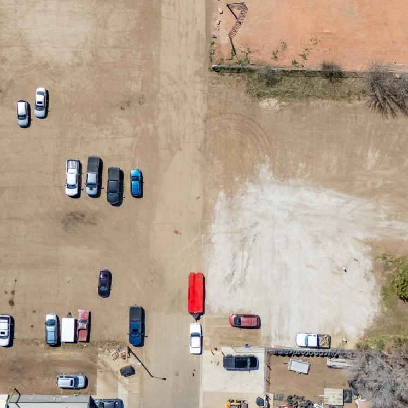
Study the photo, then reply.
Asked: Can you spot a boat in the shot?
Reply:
No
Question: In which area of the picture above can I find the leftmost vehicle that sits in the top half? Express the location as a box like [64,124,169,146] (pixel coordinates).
[14,99,29,127]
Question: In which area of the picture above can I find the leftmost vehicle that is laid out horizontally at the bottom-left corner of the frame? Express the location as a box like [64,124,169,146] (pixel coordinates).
[56,372,87,388]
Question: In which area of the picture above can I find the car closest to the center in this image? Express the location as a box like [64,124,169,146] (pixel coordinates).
[131,168,143,197]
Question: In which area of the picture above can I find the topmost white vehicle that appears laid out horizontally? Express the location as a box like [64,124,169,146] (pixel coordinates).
[296,331,331,347]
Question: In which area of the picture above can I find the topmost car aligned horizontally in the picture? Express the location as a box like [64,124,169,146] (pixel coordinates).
[229,314,260,328]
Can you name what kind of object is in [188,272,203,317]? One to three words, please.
trailer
